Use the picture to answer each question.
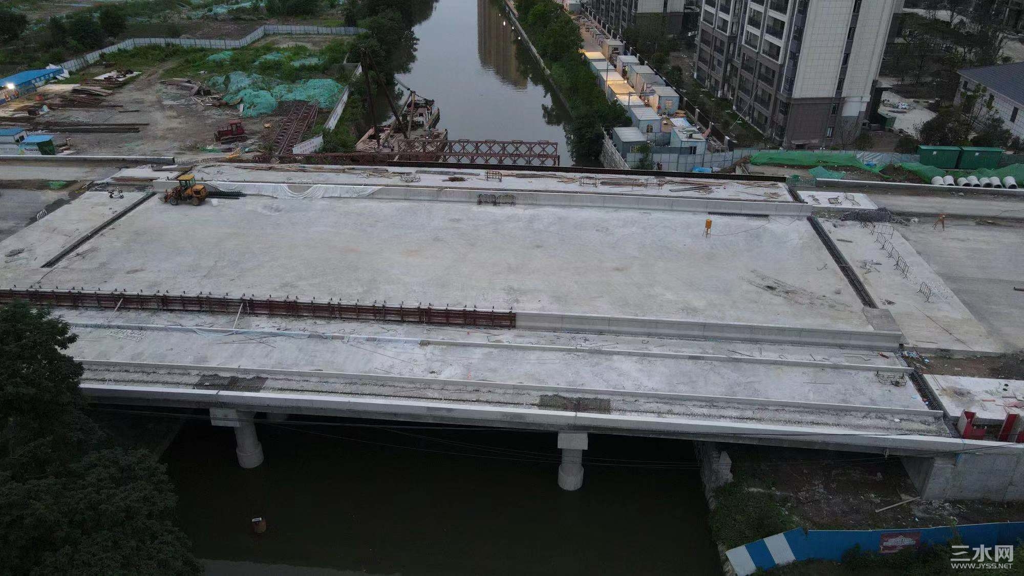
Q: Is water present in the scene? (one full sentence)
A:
Yes, the picture does contain water.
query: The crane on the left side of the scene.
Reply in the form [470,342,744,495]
[359,47,431,149]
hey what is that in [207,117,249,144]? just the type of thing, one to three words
work vehicle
